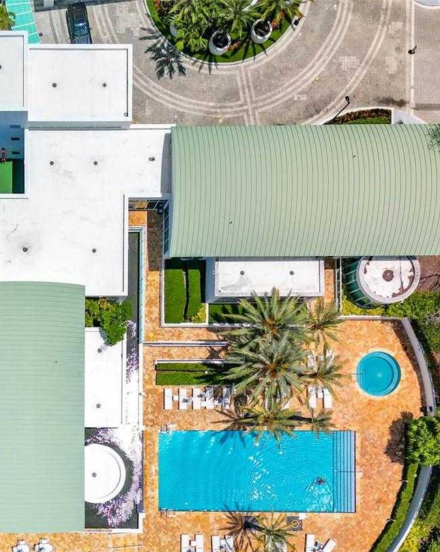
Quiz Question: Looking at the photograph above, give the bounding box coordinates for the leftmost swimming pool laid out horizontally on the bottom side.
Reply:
[158,424,368,514]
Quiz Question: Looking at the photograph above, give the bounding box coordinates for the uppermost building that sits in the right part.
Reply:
[163,124,440,263]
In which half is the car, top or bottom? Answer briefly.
top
